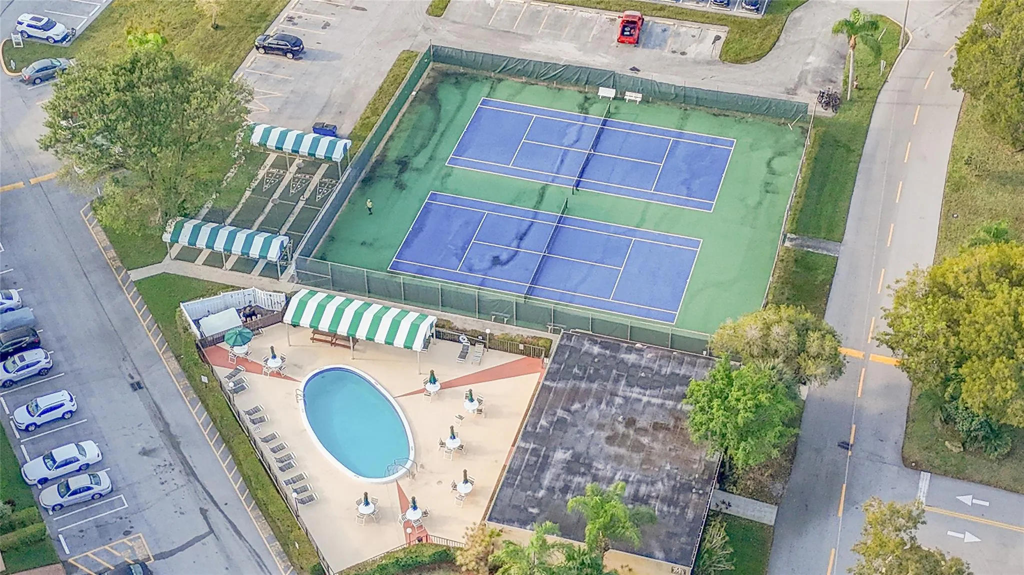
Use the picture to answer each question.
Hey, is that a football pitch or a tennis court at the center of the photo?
tennis court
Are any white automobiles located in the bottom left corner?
Yes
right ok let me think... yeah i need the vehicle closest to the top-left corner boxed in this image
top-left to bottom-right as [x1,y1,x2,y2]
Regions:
[15,15,69,43]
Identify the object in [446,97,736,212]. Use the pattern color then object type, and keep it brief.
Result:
blue tennis court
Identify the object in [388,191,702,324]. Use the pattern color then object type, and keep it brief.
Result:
blue tennis court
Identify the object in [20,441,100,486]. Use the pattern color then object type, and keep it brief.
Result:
white car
